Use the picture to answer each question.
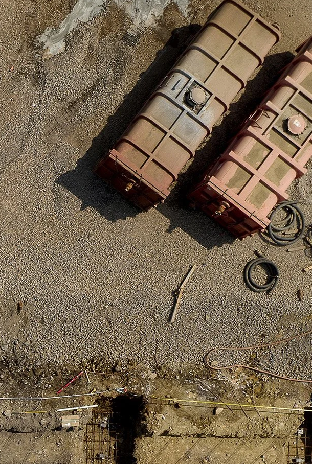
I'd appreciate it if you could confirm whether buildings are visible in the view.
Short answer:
No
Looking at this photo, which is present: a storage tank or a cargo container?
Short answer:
storage tank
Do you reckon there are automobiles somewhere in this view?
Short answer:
No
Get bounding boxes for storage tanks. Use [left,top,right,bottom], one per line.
[92,2,283,211]
[187,35,312,236]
